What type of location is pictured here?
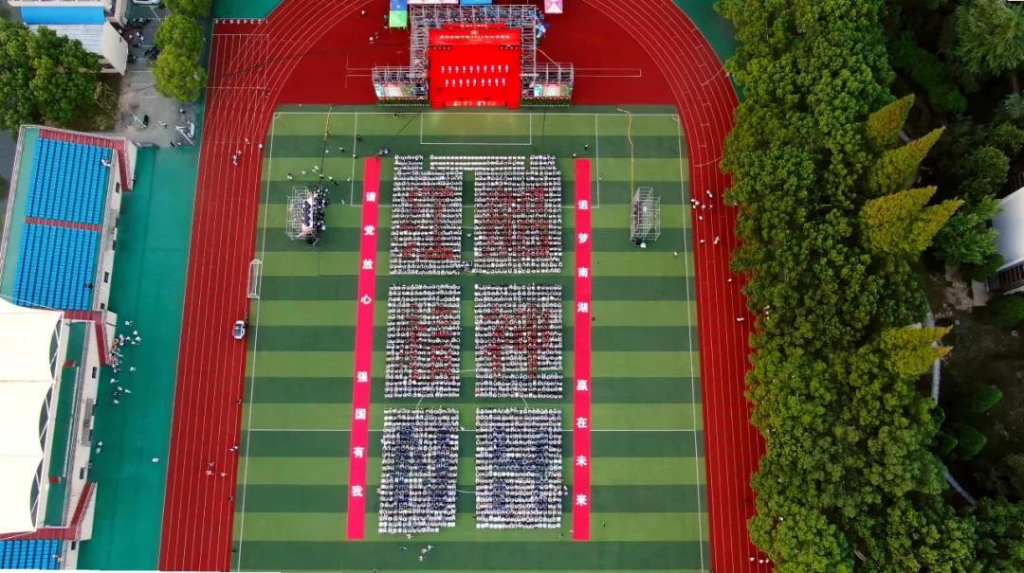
sports ground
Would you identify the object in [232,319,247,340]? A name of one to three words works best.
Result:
car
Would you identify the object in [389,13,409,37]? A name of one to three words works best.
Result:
tent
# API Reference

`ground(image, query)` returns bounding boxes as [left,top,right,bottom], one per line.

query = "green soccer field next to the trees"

[230,105,711,573]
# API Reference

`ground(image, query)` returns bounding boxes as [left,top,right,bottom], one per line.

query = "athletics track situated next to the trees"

[157,0,777,573]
